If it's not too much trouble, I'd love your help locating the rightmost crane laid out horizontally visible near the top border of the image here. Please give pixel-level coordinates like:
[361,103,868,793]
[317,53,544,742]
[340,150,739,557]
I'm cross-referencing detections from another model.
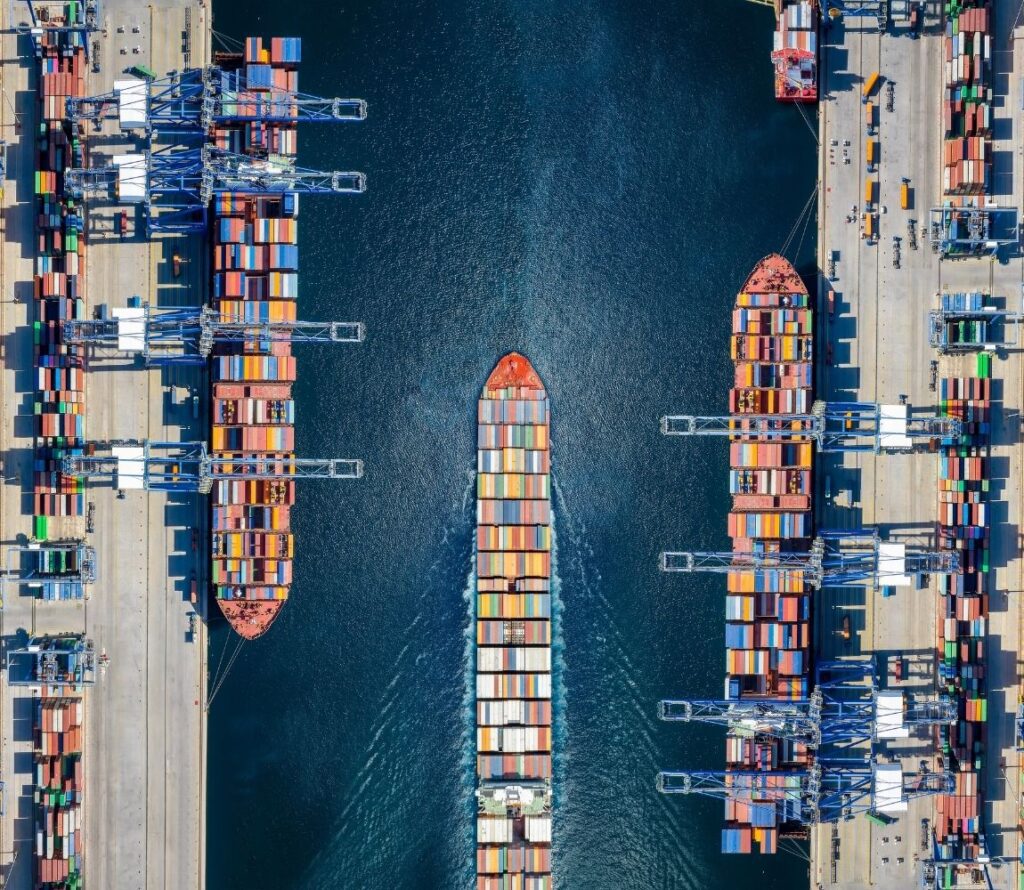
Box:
[811,0,886,20]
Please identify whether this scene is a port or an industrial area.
port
